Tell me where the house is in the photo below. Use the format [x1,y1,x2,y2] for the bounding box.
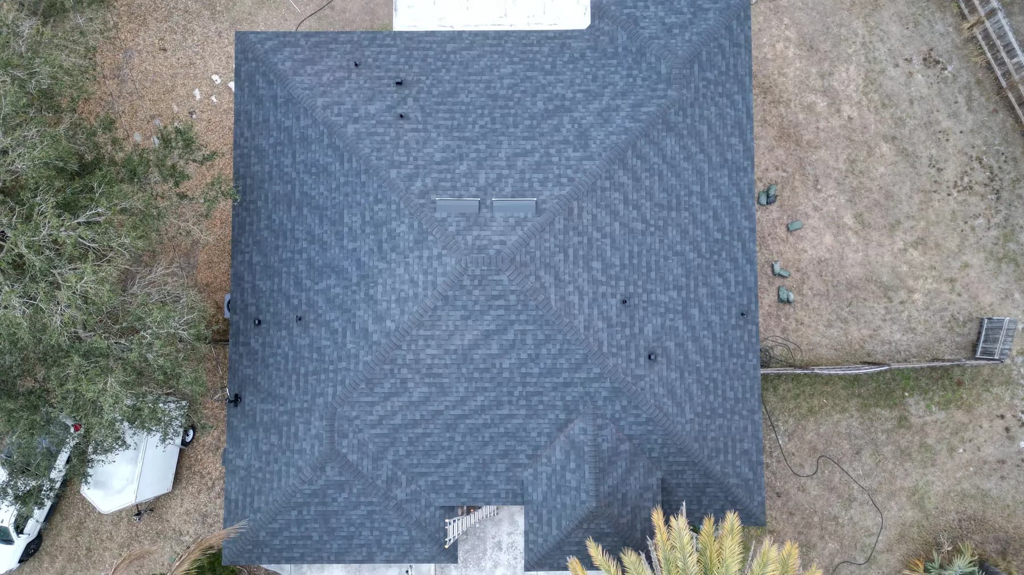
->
[221,0,765,573]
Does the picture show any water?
No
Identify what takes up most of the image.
buildings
